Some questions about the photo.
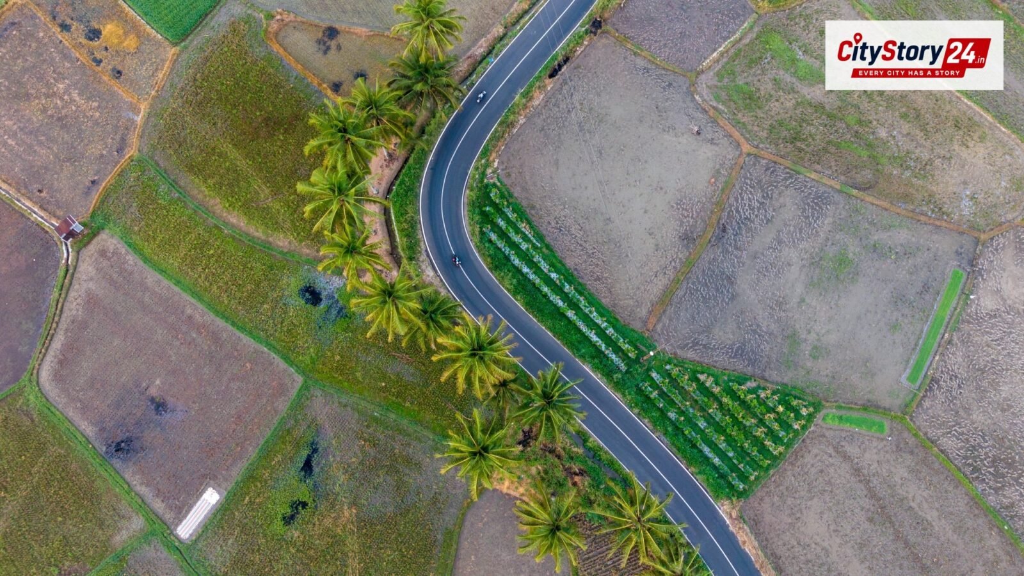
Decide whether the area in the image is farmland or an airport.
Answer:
farmland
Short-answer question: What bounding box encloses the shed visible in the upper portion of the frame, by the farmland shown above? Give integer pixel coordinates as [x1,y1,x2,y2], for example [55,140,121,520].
[54,214,88,243]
